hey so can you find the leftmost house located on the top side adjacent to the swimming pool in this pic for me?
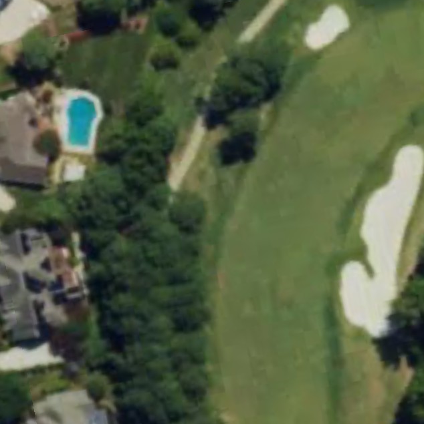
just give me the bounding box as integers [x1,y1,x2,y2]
[0,92,48,185]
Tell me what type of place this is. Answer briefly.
golf course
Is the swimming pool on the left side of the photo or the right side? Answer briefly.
left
